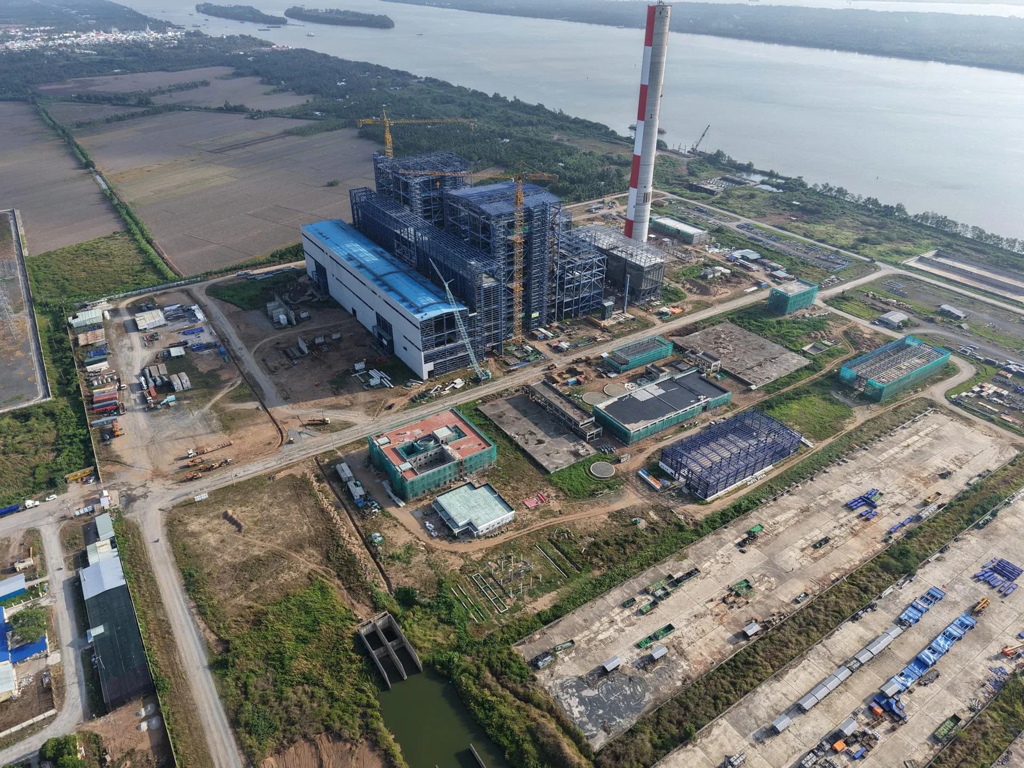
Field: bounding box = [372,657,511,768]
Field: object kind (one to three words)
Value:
pond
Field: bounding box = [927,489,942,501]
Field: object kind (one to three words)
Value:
vehicle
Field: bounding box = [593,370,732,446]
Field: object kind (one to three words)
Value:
building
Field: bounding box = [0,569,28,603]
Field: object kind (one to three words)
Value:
house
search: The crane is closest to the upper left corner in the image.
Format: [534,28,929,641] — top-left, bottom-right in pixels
[359,111,476,206]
